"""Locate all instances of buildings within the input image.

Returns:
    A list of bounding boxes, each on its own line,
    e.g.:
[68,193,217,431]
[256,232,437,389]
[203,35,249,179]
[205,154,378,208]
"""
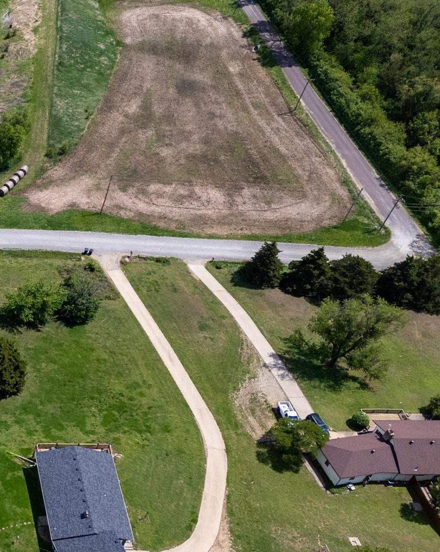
[319,419,440,488]
[33,447,134,552]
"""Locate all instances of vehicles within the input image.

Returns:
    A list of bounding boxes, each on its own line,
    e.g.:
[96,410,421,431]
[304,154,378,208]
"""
[304,410,336,437]
[271,394,304,423]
